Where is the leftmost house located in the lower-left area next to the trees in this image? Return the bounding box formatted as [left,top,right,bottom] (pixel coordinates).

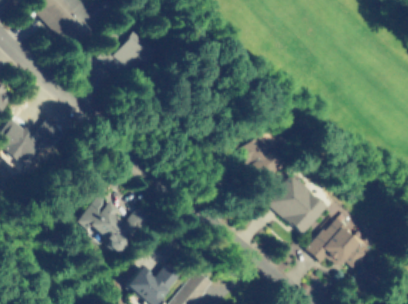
[78,196,128,251]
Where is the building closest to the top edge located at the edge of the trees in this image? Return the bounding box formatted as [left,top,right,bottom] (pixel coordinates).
[37,0,94,46]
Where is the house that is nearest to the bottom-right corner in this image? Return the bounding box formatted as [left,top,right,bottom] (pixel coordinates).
[306,216,366,268]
